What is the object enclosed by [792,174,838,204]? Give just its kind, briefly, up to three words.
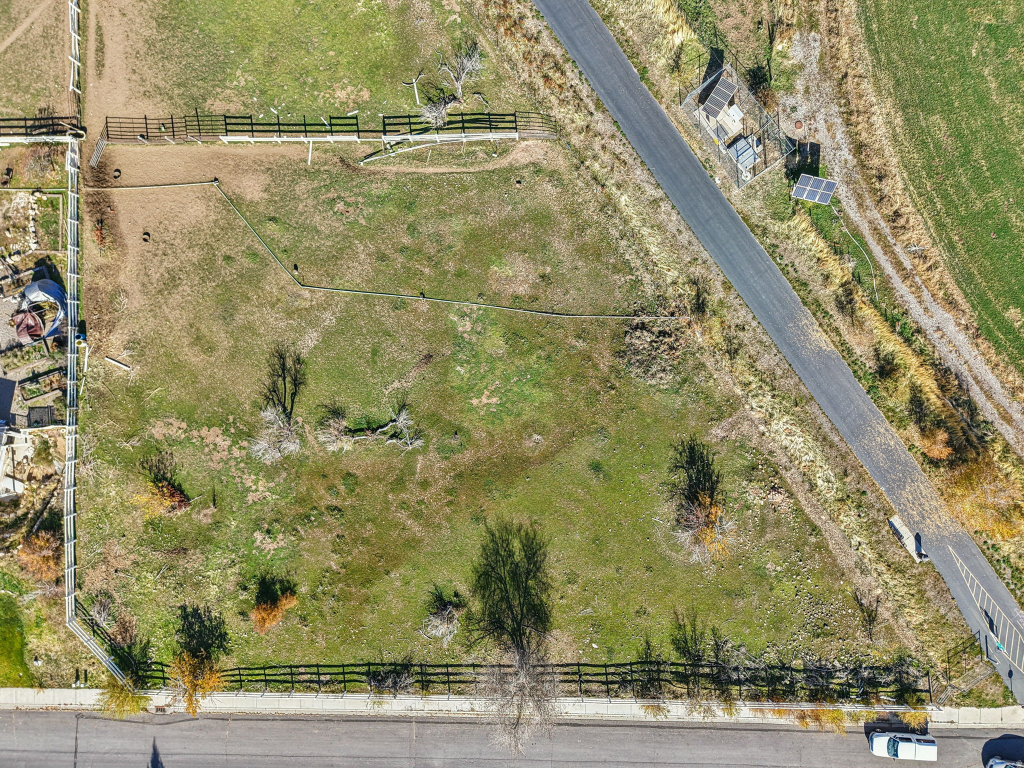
solar array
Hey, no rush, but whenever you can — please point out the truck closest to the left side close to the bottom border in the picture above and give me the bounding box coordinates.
[870,730,936,760]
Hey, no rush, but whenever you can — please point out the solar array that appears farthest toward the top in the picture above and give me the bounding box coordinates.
[701,77,738,119]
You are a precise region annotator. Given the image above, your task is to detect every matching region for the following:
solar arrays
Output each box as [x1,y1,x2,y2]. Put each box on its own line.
[792,174,838,204]
[701,77,738,119]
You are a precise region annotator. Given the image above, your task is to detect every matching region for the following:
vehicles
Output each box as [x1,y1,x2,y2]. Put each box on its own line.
[870,730,936,760]
[986,757,1024,768]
